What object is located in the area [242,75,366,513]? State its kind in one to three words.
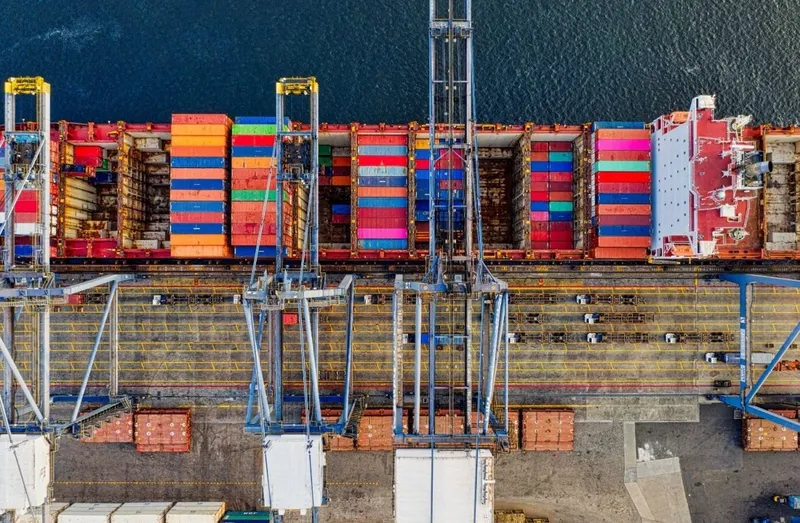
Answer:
container crane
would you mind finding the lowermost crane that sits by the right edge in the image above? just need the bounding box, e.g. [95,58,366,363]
[708,273,800,439]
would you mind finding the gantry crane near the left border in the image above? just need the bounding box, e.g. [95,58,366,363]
[0,75,145,512]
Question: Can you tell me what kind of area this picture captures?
port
